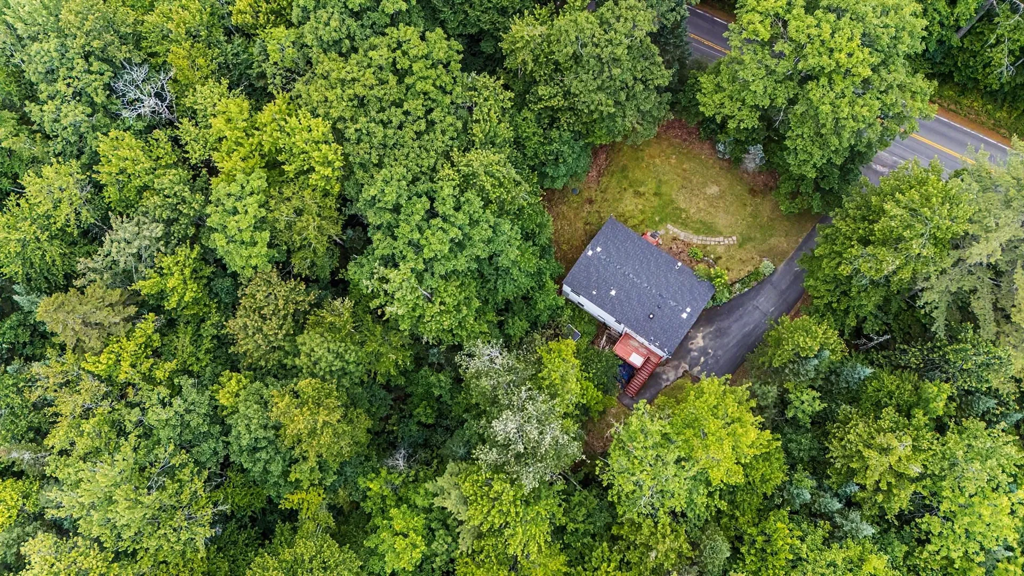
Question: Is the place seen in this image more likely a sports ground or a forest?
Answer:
forest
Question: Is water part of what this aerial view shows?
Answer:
No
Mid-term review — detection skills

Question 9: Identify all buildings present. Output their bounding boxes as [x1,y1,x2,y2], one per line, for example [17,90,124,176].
[562,217,715,362]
